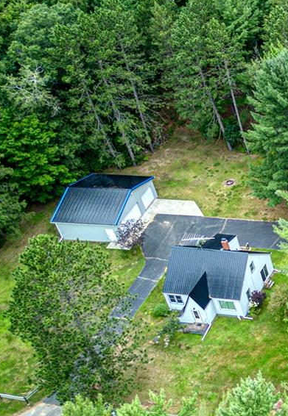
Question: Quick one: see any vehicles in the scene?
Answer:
No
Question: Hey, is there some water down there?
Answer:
No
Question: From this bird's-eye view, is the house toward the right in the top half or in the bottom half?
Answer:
bottom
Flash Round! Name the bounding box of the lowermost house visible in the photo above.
[163,228,282,339]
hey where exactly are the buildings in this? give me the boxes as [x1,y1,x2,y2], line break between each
[163,228,282,339]
[50,174,153,242]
